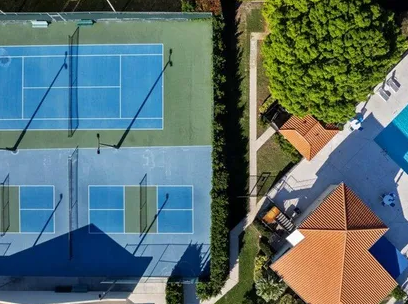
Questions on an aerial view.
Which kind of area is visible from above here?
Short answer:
sports ground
